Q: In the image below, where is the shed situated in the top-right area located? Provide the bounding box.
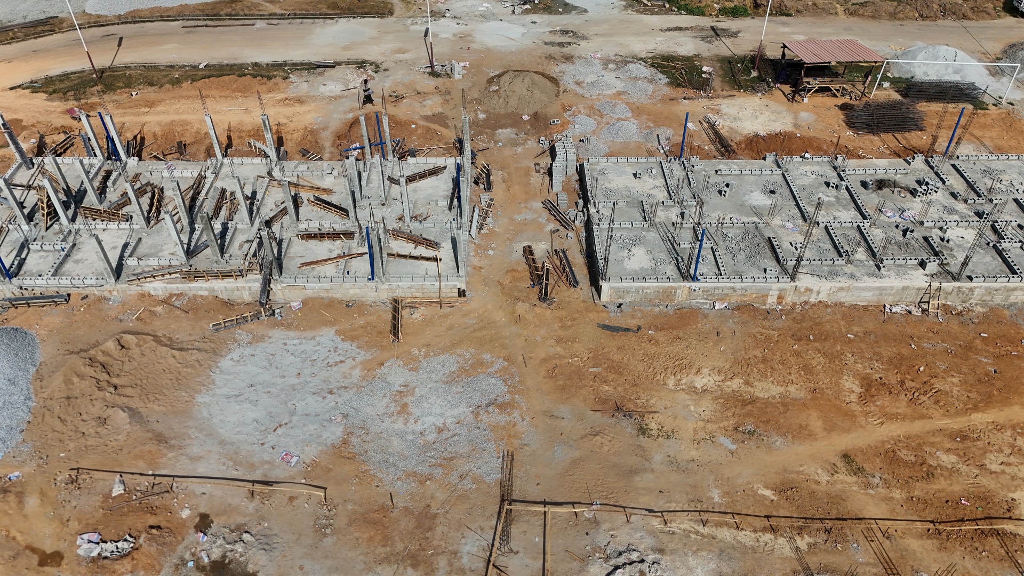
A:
[771,37,885,102]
